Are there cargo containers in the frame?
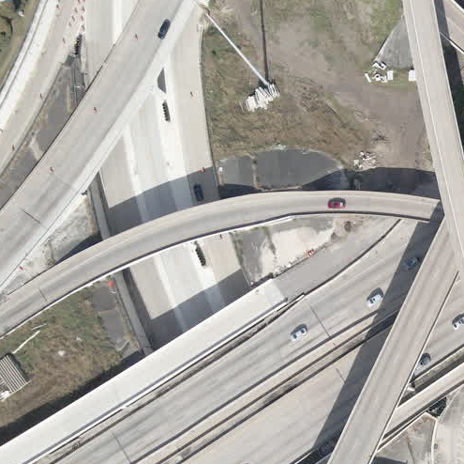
No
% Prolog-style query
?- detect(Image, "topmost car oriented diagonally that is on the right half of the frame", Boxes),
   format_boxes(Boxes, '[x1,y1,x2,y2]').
[404,255,421,271]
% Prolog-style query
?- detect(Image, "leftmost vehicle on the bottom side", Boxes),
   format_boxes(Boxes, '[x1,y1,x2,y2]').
[289,326,308,340]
